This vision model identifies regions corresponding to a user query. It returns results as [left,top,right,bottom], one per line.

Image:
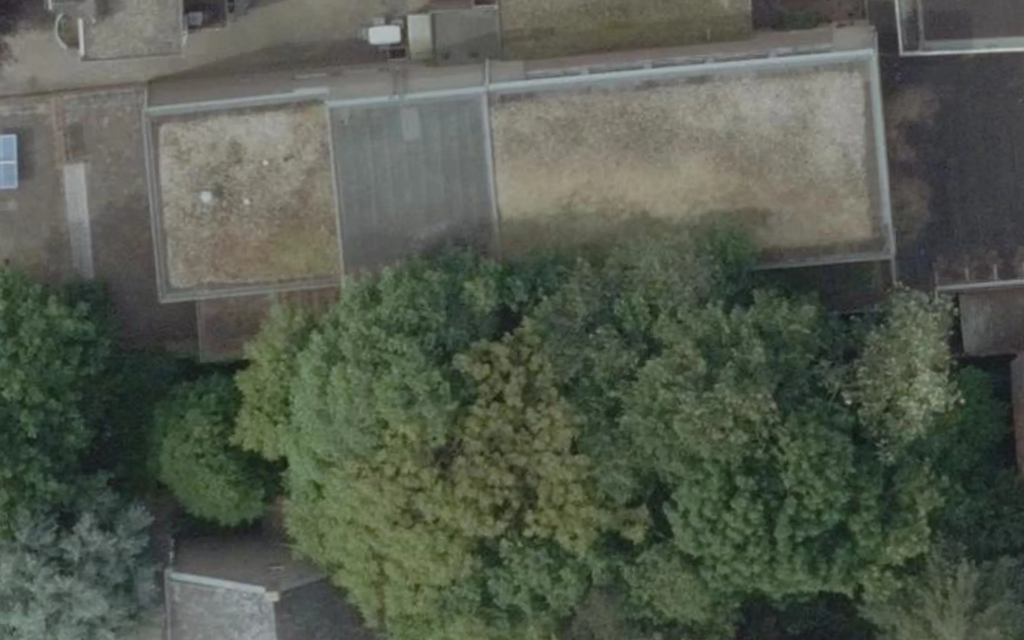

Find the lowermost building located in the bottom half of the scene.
[165,562,279,640]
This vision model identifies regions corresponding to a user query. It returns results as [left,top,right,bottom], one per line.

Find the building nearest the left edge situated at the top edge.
[74,0,186,58]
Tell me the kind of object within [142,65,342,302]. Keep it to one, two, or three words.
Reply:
house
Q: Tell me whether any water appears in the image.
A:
No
